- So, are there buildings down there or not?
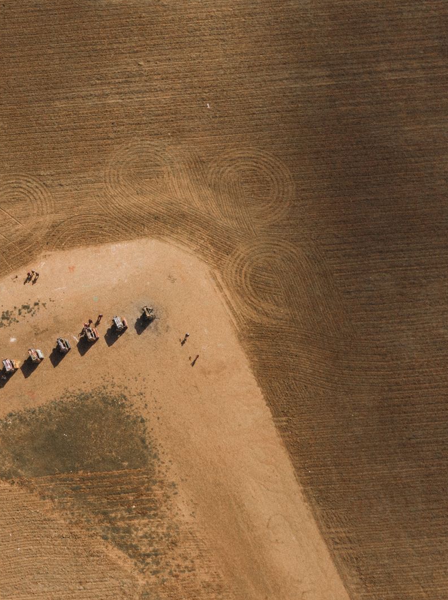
No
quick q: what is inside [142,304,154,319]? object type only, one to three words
vehicle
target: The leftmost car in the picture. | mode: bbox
[1,356,18,373]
